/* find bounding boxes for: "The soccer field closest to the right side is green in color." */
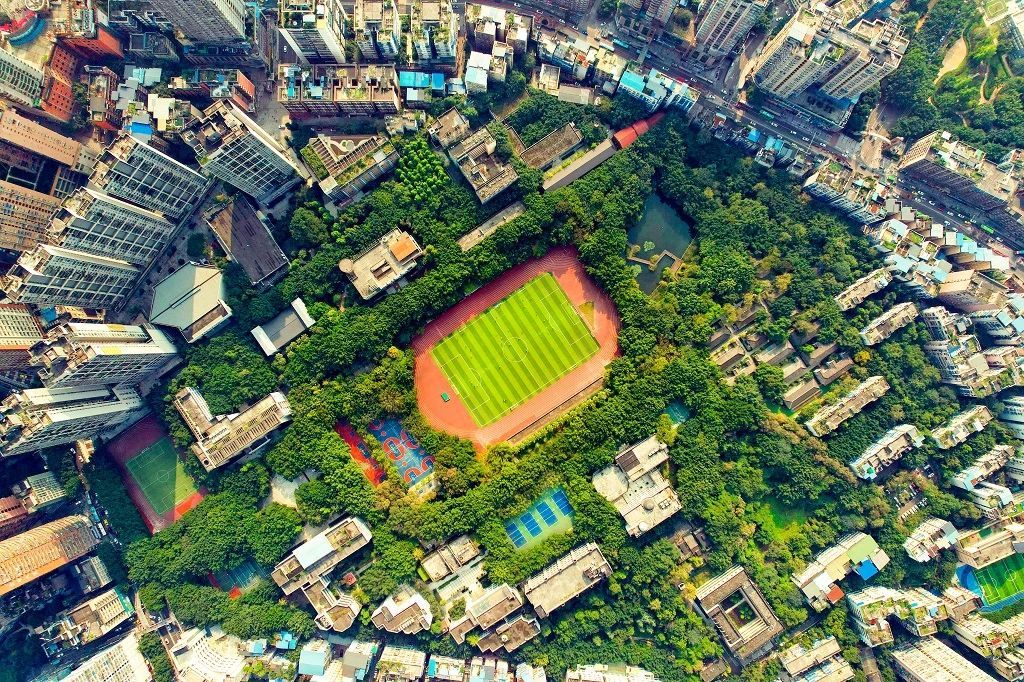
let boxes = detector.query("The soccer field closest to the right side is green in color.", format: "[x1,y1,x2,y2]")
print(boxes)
[973,547,1024,606]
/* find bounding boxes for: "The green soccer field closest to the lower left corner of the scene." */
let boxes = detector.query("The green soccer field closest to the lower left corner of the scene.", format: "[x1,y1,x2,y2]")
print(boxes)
[125,439,194,515]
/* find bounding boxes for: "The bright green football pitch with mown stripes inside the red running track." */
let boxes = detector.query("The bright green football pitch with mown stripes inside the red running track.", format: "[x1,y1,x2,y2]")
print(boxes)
[432,273,600,427]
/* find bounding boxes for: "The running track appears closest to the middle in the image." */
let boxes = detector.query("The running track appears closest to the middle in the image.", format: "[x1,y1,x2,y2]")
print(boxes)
[411,246,623,455]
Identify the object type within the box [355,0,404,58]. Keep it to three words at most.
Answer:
building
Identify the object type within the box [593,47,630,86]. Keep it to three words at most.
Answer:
house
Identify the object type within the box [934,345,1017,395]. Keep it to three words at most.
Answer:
building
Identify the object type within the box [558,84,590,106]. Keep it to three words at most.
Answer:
shed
